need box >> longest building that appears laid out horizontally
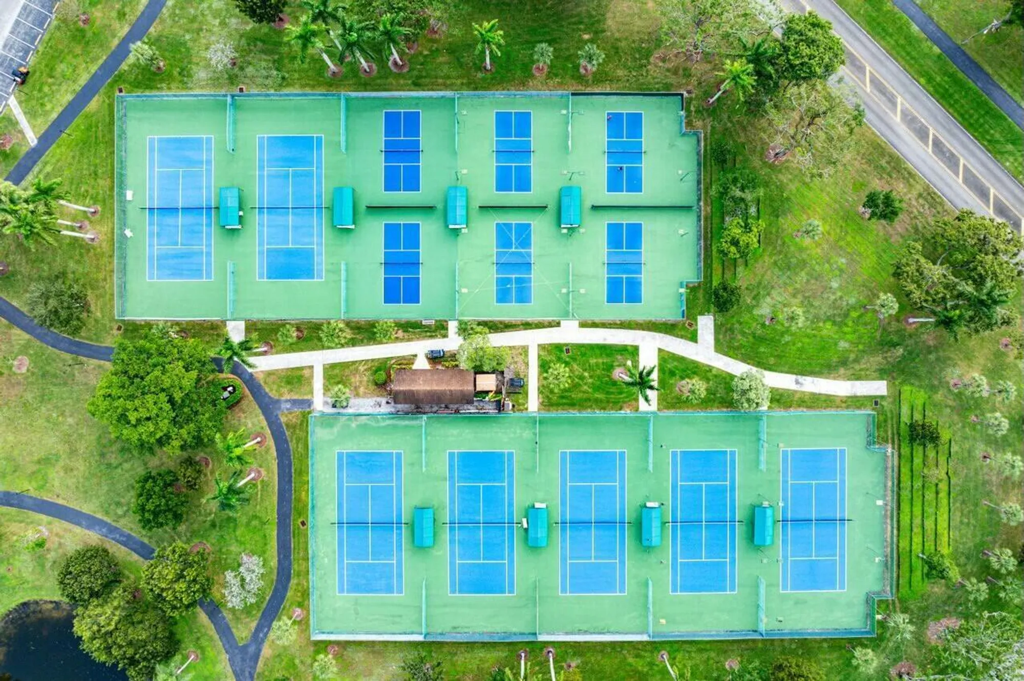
[393,369,474,404]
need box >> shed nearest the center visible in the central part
[476,374,496,391]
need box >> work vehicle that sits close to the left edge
[11,66,32,84]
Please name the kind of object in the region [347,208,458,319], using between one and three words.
sports court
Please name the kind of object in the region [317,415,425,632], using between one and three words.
tennis court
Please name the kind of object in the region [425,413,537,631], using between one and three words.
tennis court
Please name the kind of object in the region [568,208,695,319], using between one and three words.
sports court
